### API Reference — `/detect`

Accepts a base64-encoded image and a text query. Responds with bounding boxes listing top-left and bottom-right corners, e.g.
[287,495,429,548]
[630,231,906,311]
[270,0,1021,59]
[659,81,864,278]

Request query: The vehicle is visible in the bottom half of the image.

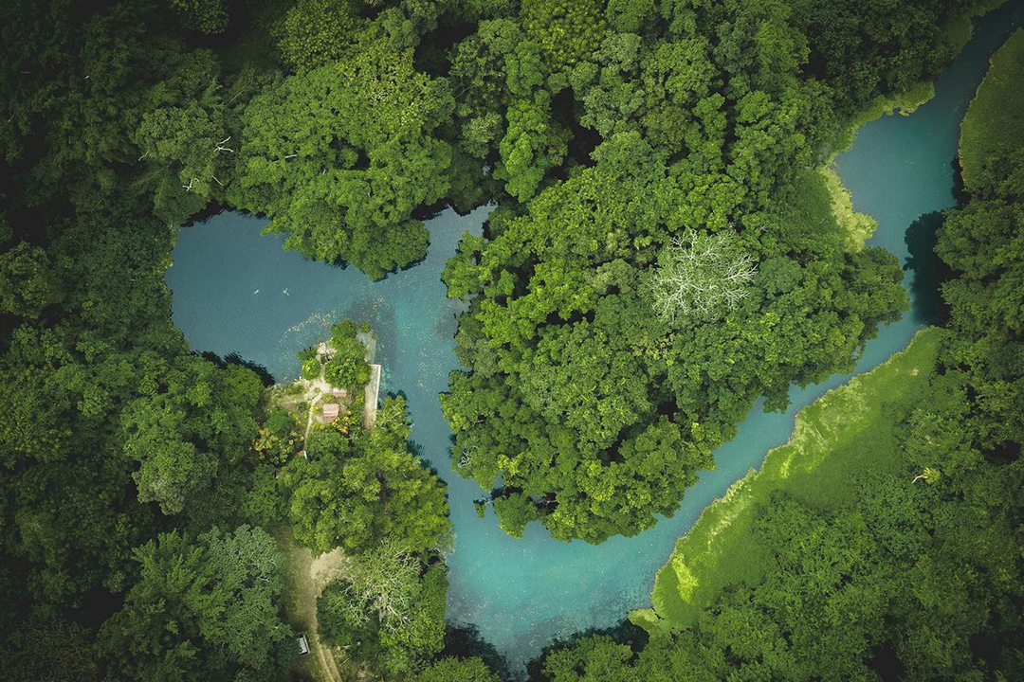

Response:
[296,636,310,657]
